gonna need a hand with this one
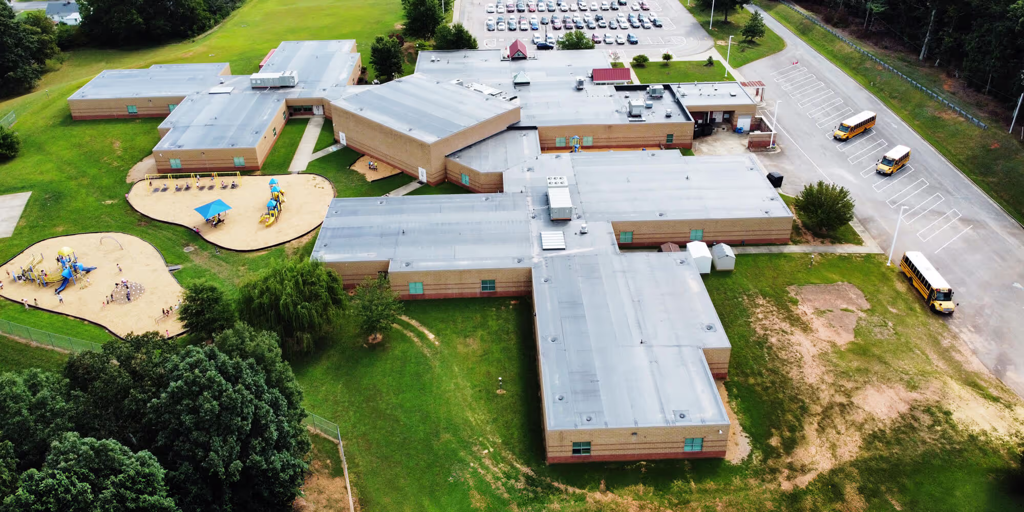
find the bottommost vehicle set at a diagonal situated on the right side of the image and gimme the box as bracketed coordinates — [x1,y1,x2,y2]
[900,251,959,312]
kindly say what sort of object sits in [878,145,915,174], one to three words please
bus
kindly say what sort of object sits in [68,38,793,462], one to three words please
building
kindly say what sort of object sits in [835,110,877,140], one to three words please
bus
